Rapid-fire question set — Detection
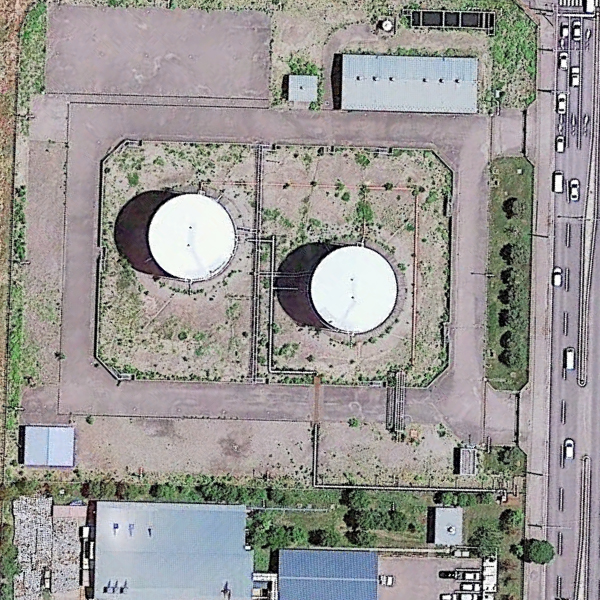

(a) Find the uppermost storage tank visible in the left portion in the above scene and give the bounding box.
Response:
[144,188,243,286]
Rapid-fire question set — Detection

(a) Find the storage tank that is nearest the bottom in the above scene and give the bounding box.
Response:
[304,240,403,338]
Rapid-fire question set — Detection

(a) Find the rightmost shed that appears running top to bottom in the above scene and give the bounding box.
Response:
[483,558,497,592]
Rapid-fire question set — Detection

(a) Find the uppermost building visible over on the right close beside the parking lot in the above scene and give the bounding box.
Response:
[435,507,462,545]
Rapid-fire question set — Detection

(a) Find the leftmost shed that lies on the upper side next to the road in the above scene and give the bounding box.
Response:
[289,74,317,102]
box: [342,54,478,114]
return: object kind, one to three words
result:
building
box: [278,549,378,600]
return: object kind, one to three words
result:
building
